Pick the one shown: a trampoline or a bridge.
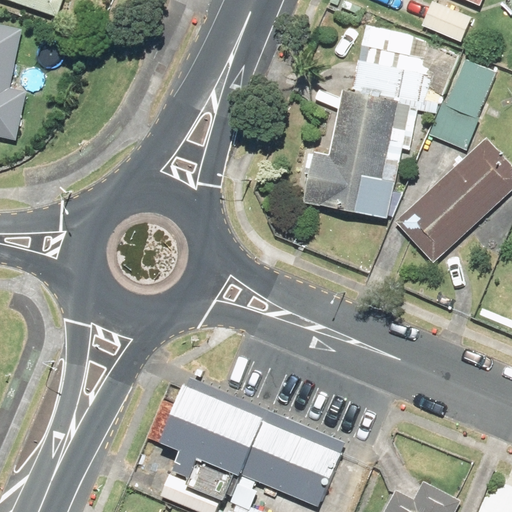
trampoline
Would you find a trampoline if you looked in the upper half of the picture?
Yes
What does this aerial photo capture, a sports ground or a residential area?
residential area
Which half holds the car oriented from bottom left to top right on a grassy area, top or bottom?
top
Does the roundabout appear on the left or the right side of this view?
left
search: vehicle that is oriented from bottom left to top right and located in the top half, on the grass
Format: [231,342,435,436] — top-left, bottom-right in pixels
[335,28,358,58]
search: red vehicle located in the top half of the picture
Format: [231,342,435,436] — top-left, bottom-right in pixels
[410,2,430,18]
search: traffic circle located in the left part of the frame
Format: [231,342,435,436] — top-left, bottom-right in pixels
[106,212,188,294]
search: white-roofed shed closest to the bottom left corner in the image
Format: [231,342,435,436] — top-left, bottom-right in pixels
[161,474,218,512]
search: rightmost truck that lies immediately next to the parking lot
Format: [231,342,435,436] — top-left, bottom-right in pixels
[413,394,448,417]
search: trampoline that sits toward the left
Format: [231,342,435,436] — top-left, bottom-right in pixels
[34,43,62,70]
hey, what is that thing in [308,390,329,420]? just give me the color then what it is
white car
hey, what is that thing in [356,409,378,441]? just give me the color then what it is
white car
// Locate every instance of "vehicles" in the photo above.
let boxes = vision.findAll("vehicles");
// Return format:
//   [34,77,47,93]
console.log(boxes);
[324,394,346,428]
[371,0,404,10]
[388,321,421,342]
[308,390,329,420]
[279,373,300,404]
[413,394,448,417]
[448,256,466,290]
[410,2,430,18]
[500,366,512,380]
[356,409,378,441]
[340,402,362,434]
[244,369,263,397]
[462,348,494,370]
[335,28,358,58]
[296,380,316,410]
[228,356,250,388]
